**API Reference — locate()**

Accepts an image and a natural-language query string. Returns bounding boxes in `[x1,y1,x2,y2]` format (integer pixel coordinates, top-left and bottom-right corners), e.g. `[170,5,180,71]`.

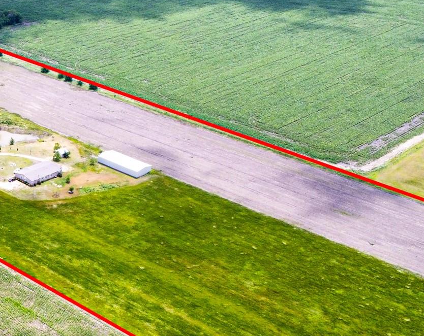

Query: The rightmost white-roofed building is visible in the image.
[99,146,155,178]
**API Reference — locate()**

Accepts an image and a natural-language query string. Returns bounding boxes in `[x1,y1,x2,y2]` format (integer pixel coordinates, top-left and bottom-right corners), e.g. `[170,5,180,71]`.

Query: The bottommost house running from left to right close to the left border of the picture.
[10,158,64,185]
